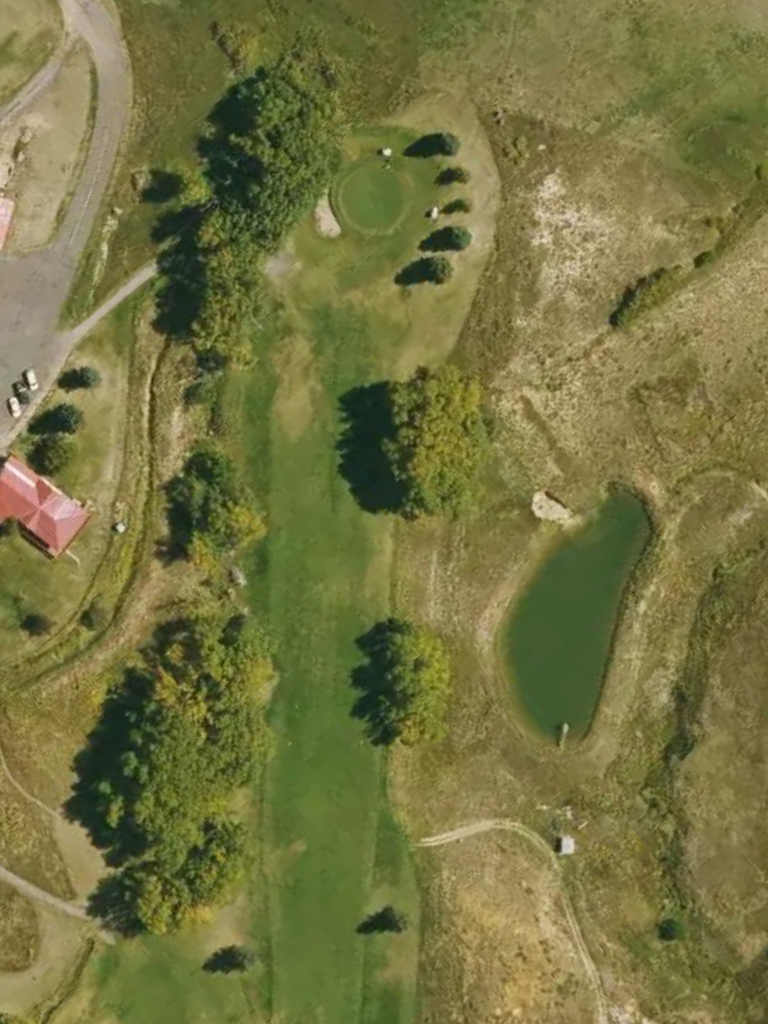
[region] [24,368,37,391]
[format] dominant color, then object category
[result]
white vehicle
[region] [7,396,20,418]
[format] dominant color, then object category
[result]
white vehicle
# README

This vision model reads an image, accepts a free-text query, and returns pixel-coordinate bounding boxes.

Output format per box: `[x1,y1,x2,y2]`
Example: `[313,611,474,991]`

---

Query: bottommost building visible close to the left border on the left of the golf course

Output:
[0,456,87,557]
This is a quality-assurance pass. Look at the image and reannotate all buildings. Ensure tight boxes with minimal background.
[560,836,572,854]
[0,456,87,557]
[0,200,10,249]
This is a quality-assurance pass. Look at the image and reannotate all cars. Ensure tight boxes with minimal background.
[14,379,28,403]
[7,396,20,418]
[24,368,37,391]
